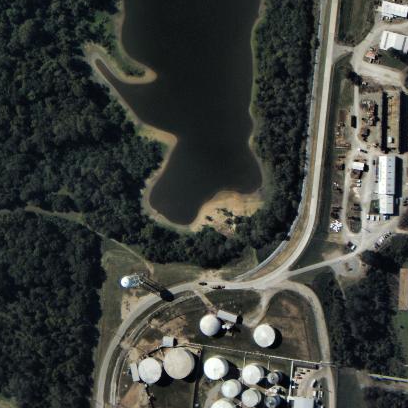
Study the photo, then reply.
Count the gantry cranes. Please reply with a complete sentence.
The count of gantry cranes is 0.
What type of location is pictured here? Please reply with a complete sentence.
This looks like an industrial area.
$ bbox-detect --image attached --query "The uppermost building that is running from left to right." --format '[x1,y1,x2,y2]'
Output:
[381,1,408,17]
